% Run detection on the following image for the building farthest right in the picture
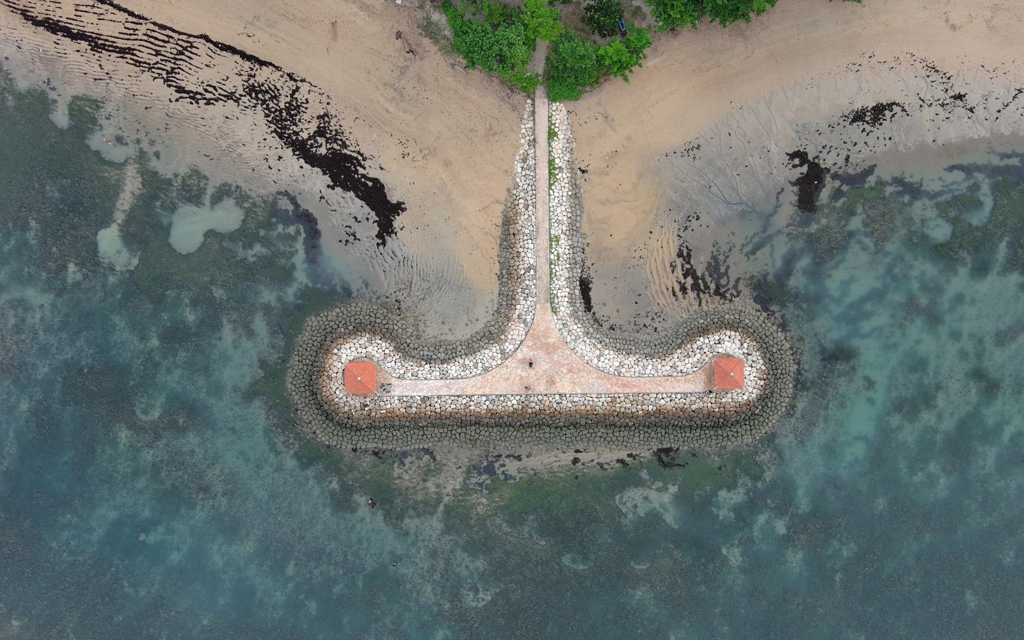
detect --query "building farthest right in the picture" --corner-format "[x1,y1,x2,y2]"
[707,356,746,392]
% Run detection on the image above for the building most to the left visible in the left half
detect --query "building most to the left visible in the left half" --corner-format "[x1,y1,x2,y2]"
[343,361,381,396]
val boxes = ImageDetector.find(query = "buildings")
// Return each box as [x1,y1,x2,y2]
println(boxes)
[707,356,746,392]
[343,361,381,396]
